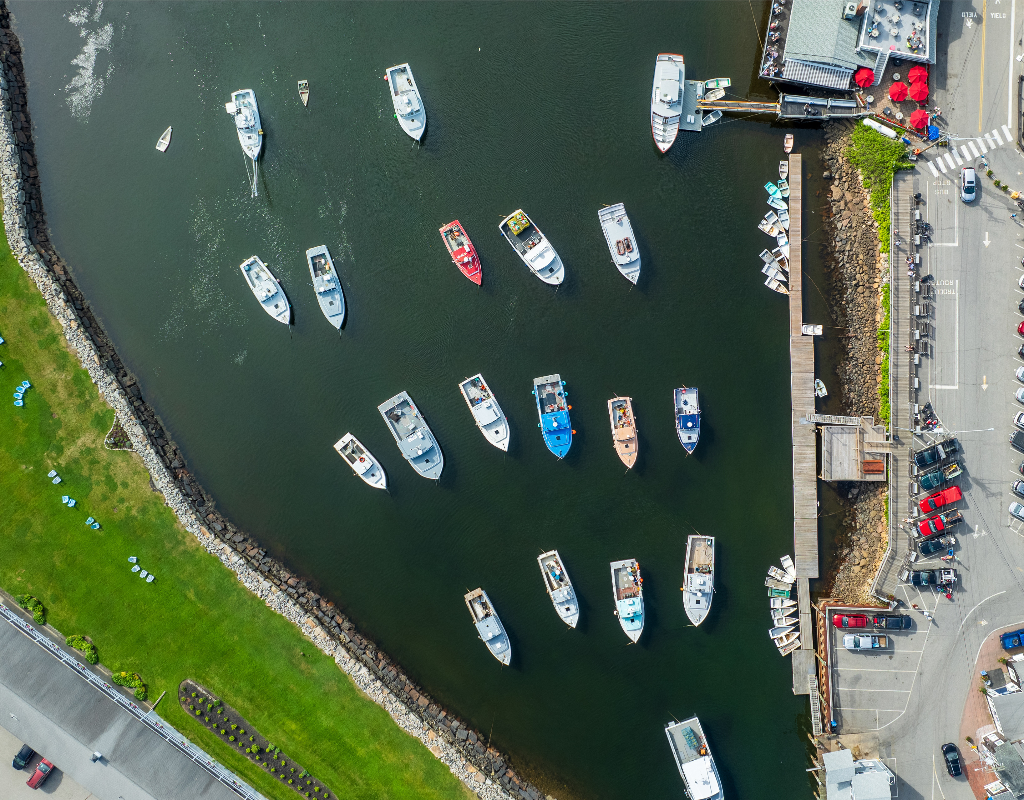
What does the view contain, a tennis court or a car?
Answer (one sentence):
The one in the frame is a car.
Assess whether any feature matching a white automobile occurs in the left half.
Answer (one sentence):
No, no white automobile can be made out in the left half.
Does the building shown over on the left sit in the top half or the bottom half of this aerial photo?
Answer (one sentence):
The building shown over on the left is in the bottom half of the image.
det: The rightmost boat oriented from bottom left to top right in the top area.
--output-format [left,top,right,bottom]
[702,110,722,125]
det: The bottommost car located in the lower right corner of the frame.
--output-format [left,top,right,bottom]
[939,741,964,778]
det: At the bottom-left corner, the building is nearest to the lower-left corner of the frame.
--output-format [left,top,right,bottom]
[0,597,263,800]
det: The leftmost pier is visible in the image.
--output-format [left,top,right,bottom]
[678,80,706,132]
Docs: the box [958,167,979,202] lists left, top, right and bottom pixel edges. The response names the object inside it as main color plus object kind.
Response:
white car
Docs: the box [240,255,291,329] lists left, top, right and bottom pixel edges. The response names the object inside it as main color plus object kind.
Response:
white boat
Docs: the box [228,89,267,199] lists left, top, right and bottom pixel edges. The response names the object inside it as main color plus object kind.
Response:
white boat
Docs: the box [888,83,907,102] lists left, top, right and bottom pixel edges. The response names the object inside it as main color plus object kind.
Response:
red umbrella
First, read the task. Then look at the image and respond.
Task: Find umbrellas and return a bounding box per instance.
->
[907,66,927,84]
[908,83,928,102]
[854,70,873,88]
[908,110,928,129]
[888,83,907,102]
